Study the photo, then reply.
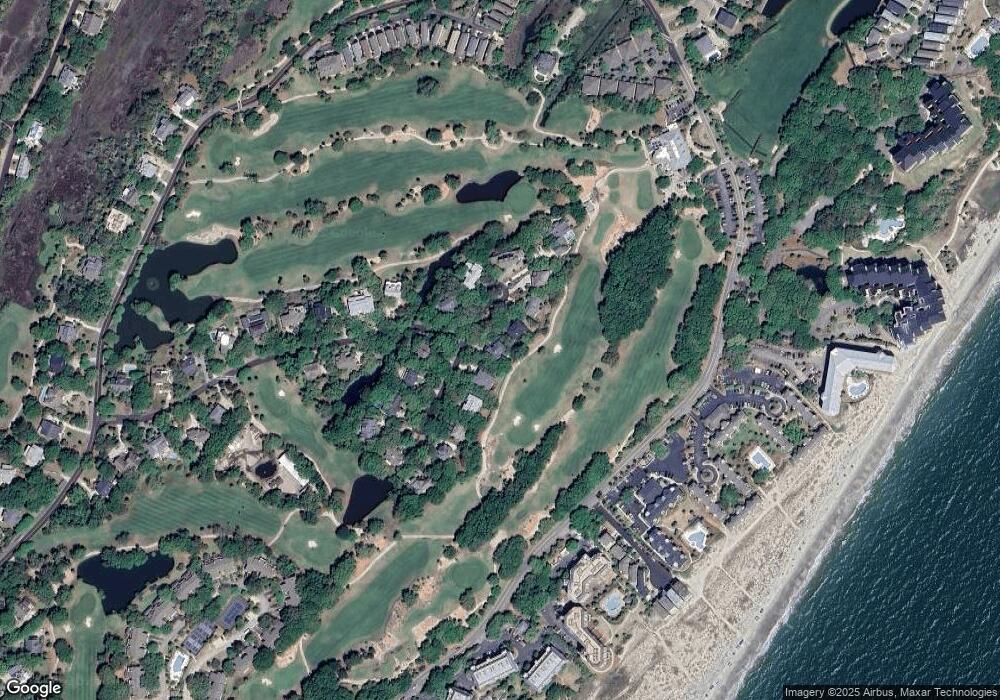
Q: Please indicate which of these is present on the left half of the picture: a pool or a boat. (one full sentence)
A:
You can see a pool on the left half of the picture.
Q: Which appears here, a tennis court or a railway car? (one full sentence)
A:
The image shows a tennis court.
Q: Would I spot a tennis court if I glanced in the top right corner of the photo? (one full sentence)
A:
No, no tennis court is visible in the top right corner of the photo.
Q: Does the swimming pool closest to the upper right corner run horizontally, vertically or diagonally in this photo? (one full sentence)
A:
The swimming pool closest to the upper right corner runs diagonally in the image.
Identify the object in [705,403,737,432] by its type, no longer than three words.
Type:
building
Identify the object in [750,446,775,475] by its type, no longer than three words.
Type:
swimming pool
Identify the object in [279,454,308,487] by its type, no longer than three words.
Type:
shed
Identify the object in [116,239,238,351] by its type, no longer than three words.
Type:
pond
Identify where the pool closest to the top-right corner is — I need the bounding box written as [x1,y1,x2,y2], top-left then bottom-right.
[966,29,991,59]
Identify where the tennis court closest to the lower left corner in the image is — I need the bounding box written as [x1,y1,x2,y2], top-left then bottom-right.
[182,622,216,653]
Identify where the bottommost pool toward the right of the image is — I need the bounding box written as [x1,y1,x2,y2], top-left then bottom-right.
[603,589,623,614]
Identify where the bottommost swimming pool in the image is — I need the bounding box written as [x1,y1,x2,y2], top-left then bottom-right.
[170,652,189,681]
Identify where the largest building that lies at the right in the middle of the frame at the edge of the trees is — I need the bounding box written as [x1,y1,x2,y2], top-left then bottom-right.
[849,259,951,347]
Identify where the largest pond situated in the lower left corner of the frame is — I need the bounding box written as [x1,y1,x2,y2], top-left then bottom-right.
[77,552,175,615]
